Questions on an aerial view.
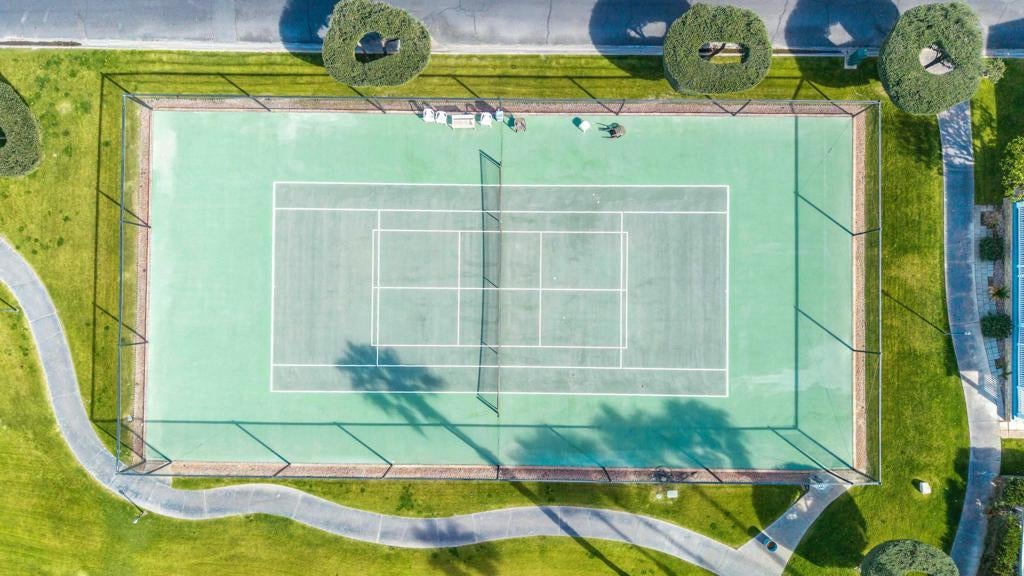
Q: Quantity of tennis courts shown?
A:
one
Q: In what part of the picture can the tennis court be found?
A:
center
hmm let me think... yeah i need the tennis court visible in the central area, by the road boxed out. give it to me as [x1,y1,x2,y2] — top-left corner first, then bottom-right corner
[143,108,857,473]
